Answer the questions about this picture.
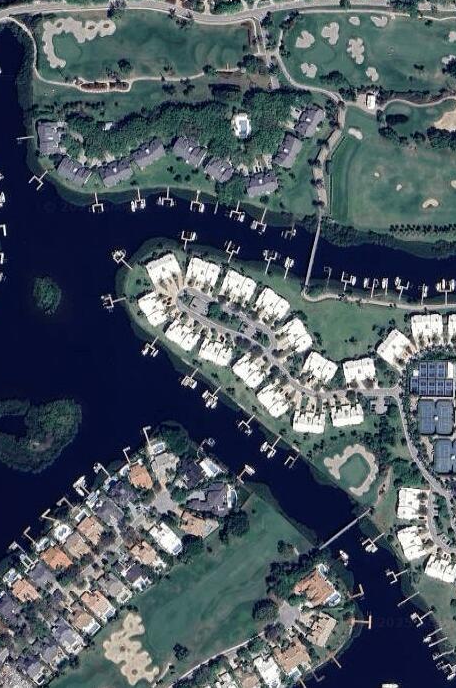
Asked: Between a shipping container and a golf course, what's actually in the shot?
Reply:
golf course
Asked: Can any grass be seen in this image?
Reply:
Yes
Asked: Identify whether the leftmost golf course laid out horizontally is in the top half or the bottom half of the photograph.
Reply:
top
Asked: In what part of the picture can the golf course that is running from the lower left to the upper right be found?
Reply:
bottom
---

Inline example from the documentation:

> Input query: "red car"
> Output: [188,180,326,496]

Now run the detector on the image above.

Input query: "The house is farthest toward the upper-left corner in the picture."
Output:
[40,126,58,154]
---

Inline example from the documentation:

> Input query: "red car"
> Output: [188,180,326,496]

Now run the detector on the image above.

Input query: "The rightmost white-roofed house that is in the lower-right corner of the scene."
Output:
[425,547,456,582]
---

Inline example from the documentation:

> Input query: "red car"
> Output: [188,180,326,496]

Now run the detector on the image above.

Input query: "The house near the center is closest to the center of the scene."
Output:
[199,332,236,364]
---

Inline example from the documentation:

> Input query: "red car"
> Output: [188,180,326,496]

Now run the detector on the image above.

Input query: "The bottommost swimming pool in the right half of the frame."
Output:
[282,666,300,681]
